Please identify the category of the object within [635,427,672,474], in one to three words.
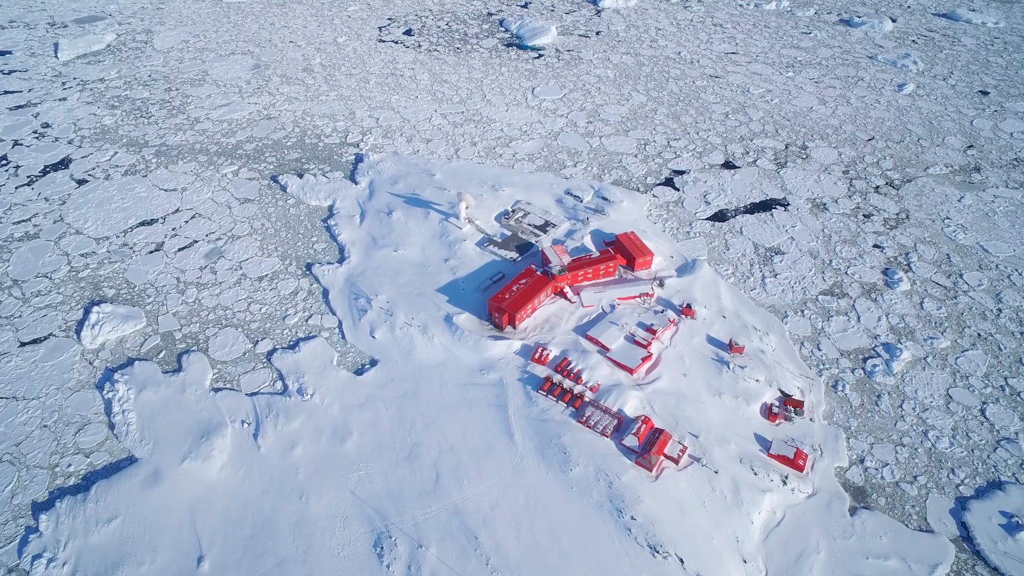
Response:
building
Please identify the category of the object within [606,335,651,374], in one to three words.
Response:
building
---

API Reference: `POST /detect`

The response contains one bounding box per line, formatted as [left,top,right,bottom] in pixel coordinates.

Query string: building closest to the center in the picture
[486,265,553,333]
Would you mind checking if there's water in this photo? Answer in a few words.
Yes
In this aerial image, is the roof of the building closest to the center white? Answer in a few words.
No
